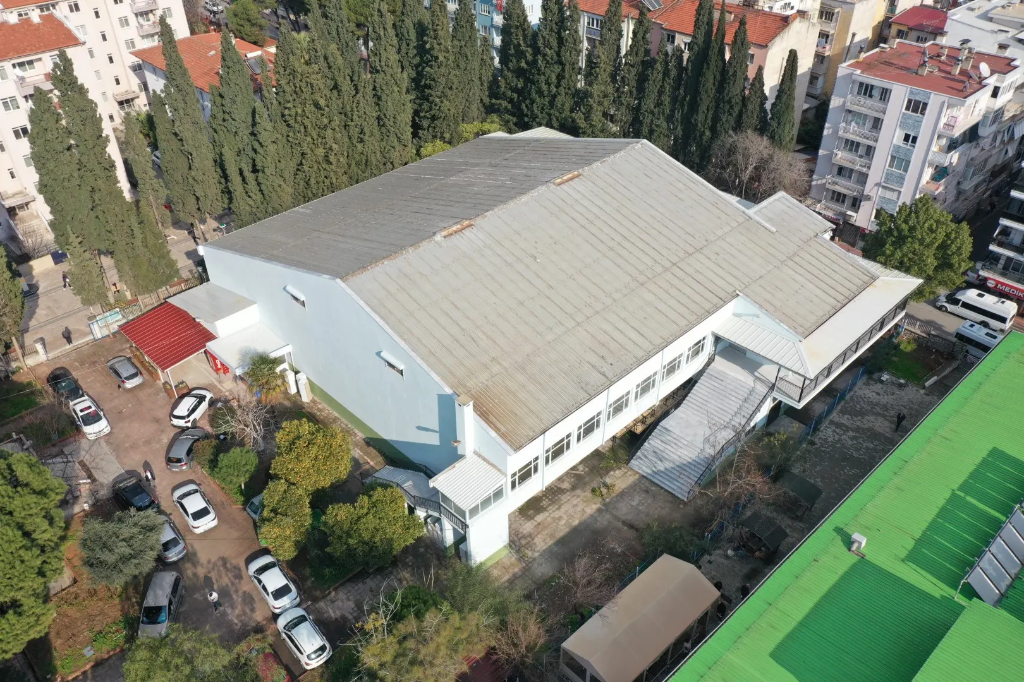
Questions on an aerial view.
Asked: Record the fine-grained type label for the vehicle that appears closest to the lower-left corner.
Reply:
automobile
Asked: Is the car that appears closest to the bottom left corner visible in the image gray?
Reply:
Yes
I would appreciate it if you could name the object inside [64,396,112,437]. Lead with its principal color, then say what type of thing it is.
white car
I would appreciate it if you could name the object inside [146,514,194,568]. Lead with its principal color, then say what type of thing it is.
gray car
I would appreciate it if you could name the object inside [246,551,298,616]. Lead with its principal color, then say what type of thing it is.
white car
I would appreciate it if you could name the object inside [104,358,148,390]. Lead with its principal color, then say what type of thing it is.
gray car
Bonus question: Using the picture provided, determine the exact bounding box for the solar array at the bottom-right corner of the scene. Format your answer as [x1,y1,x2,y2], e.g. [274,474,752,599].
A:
[946,505,1024,622]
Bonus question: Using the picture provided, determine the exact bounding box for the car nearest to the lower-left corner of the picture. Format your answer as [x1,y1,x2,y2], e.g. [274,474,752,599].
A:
[135,564,185,641]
